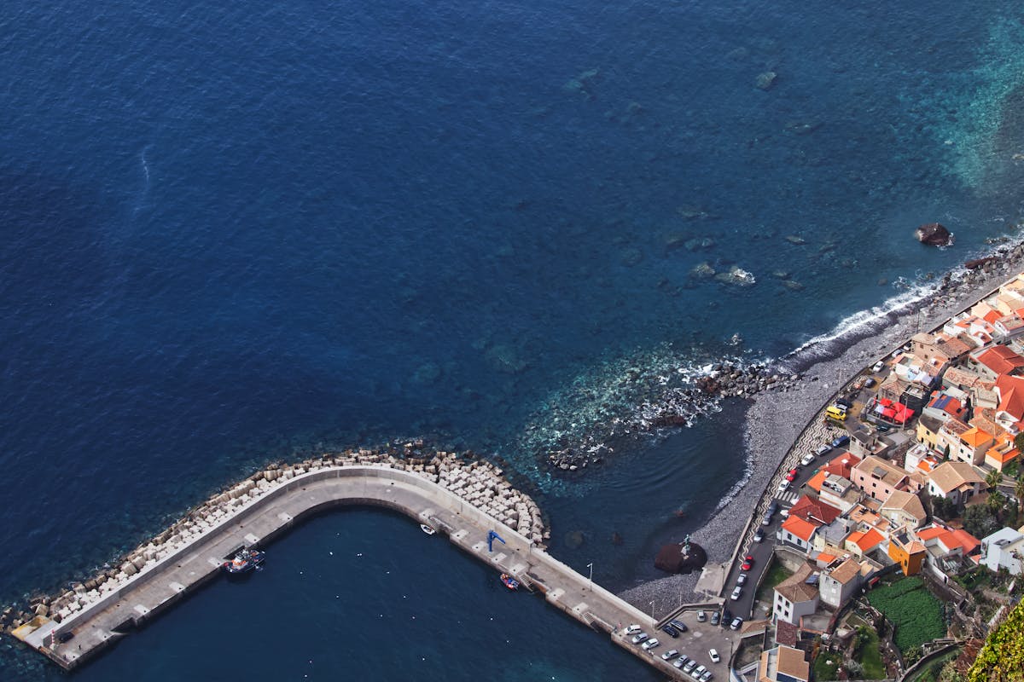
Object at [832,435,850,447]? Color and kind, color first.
blue vehicle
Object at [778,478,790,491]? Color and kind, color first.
white vehicle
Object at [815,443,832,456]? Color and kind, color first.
gray vehicle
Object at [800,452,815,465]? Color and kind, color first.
white vehicle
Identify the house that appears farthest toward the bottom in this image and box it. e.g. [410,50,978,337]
[759,642,808,682]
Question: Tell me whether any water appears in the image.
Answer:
Yes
